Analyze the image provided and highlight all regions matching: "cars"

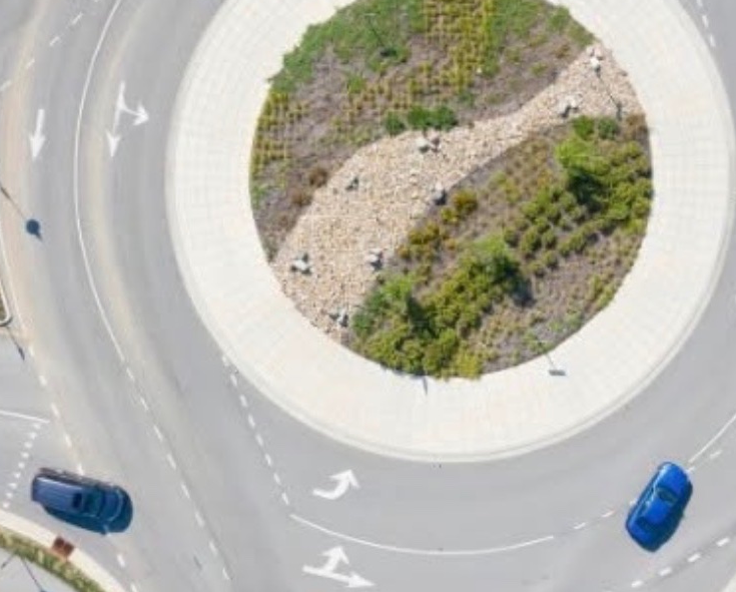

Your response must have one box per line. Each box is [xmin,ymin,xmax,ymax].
[33,472,130,528]
[627,462,694,554]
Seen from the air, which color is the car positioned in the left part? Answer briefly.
blue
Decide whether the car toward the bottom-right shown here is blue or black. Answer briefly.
blue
